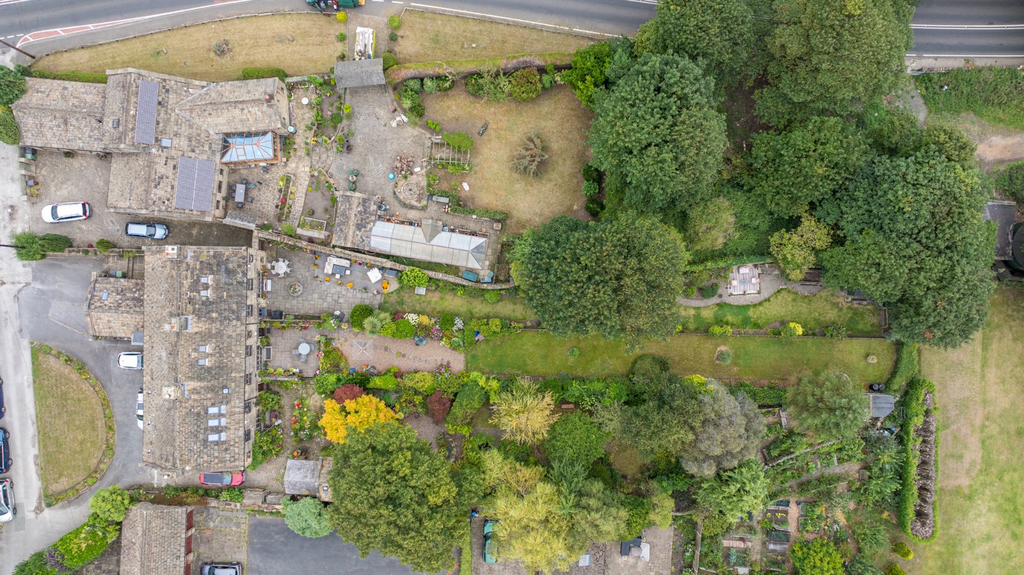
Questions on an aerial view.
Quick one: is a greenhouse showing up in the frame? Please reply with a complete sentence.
Yes, there is a greenhouse in the image.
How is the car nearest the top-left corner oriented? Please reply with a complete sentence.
The car nearest the top-left corner has been laid out from side to side relative to the frame.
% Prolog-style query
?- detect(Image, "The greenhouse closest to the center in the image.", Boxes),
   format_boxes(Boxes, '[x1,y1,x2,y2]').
[370,218,488,269]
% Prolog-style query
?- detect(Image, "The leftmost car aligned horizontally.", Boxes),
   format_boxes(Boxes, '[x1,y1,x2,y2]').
[43,200,92,222]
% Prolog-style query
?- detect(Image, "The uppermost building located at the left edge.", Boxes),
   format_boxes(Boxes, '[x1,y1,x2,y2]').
[9,66,292,220]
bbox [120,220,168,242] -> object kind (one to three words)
car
